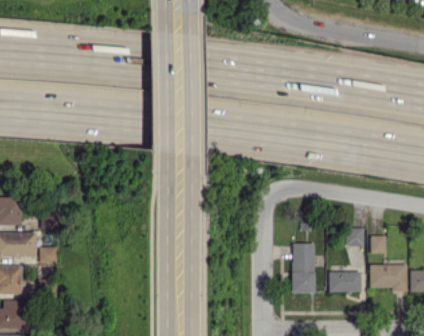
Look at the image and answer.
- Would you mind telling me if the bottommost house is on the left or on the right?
left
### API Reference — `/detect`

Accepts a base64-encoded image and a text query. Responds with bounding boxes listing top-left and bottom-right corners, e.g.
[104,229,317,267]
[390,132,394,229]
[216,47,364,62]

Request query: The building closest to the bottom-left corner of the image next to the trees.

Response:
[0,300,26,328]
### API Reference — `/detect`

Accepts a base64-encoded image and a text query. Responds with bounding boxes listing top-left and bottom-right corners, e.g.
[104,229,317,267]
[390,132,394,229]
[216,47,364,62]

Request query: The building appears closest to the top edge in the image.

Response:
[0,196,22,224]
